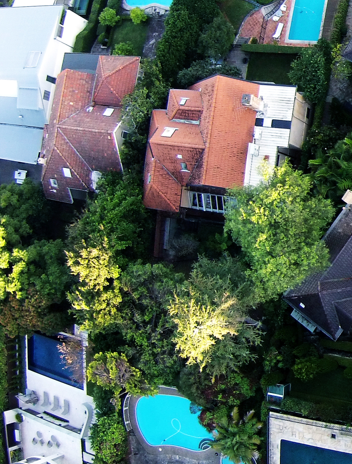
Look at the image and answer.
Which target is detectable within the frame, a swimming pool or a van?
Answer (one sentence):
Looking from above, you can make out a swimming pool.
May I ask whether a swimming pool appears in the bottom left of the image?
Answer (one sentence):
Yes, I can see a swimming pool in the bottom left of the image.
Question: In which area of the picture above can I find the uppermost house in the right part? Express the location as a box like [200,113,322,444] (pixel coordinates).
[142,74,309,228]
